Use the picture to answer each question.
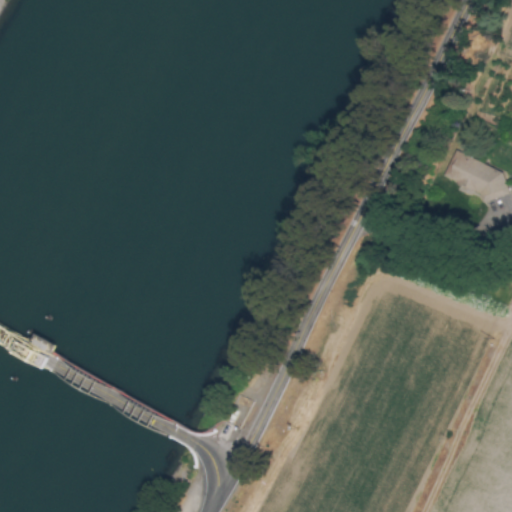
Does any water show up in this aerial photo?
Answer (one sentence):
Yes, some water is visible.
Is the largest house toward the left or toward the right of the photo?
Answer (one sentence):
It is on the right.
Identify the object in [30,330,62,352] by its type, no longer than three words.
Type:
building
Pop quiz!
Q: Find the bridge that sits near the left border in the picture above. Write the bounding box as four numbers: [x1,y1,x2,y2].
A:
[0,322,183,440]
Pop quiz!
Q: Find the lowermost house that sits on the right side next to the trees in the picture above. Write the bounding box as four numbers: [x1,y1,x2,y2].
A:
[446,150,510,203]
